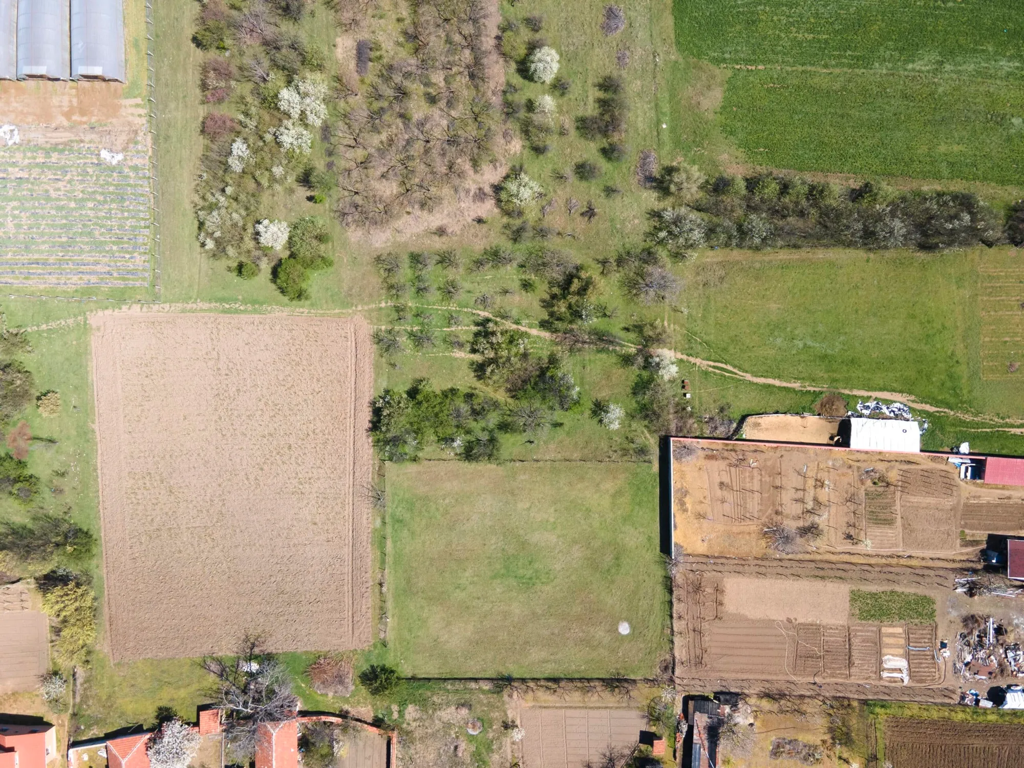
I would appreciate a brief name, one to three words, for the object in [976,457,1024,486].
building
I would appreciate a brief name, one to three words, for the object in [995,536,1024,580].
house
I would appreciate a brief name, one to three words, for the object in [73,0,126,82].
greenhouse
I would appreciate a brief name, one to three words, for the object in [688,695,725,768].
barn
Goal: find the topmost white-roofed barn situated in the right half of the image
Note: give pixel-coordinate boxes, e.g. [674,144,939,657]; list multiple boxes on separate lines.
[844,418,920,452]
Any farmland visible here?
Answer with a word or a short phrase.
Yes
